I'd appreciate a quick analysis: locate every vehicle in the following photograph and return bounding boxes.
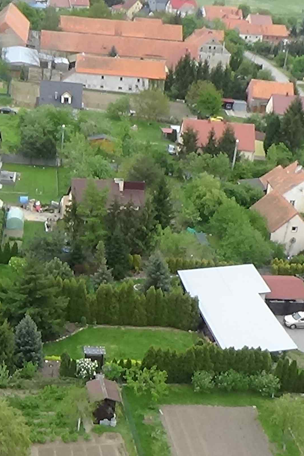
[165,140,175,152]
[225,102,233,109]
[0,107,18,116]
[209,112,225,121]
[284,311,304,327]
